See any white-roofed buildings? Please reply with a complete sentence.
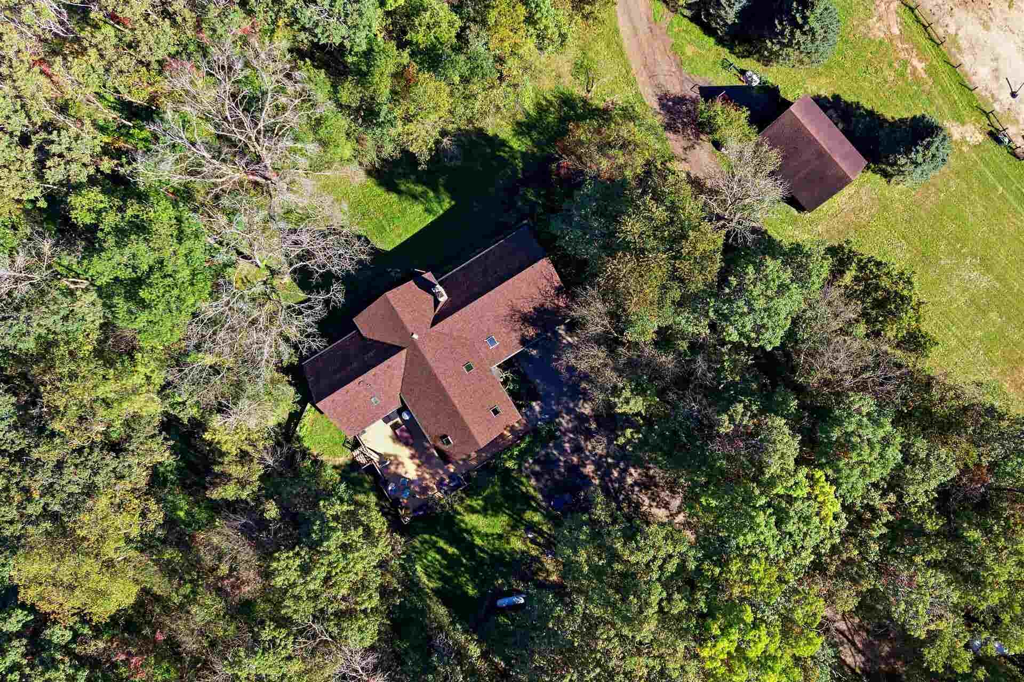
No, there appears to be no white-roofed building in this shot.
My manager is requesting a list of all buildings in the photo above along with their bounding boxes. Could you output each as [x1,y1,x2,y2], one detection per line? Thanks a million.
[301,224,576,467]
[751,95,862,207]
